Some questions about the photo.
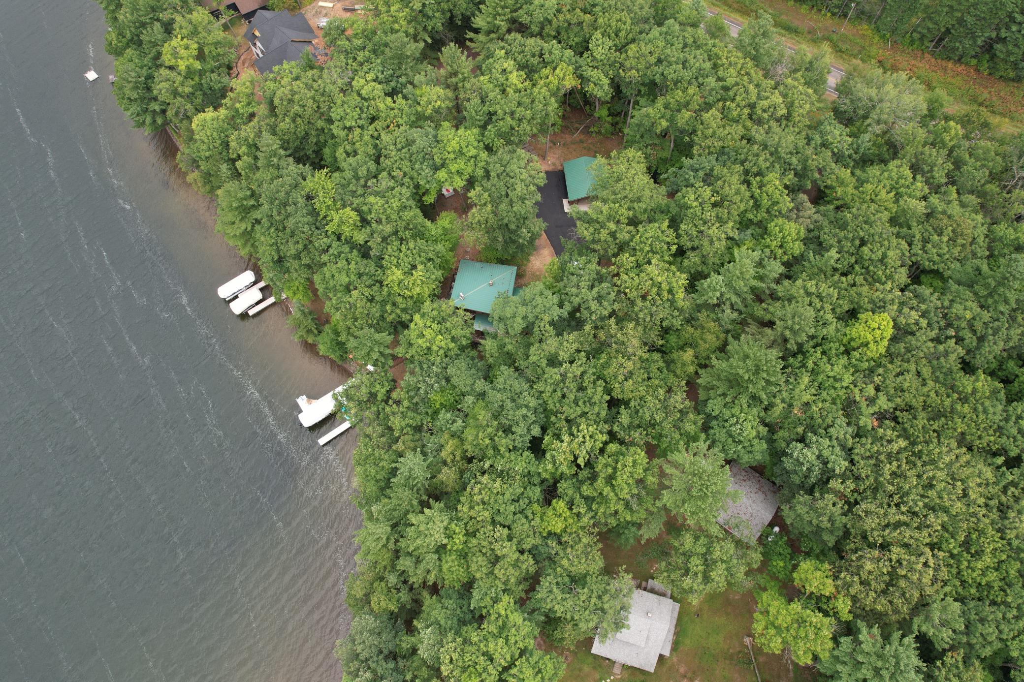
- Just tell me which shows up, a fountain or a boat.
boat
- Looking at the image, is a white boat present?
Yes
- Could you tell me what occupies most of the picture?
trees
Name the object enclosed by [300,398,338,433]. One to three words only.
boat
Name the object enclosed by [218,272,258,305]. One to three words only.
boat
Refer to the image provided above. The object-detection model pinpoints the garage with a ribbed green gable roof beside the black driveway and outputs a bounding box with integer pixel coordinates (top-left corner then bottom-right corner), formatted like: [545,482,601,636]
[563,154,606,209]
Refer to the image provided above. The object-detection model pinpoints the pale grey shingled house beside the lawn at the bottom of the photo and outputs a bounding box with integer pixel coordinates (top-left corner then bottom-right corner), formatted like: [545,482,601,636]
[591,576,682,674]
